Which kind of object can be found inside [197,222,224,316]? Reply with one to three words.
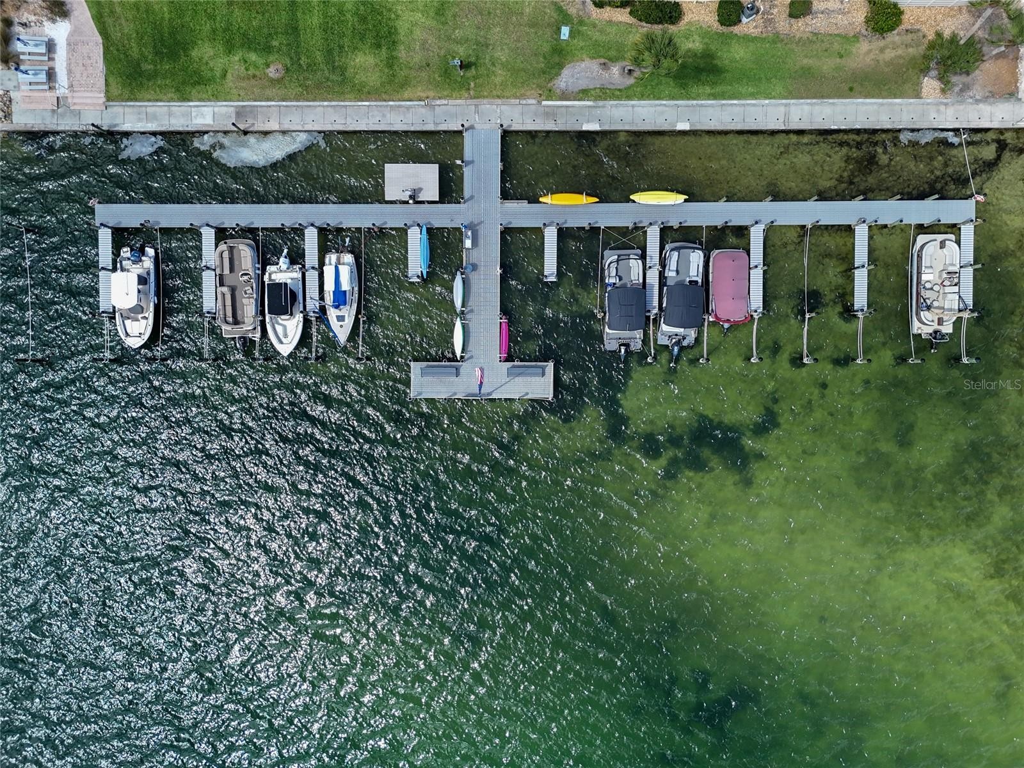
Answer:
pier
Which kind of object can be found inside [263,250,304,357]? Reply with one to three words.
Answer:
boat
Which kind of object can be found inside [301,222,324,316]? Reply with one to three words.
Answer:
pier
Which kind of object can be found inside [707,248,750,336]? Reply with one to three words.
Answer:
boat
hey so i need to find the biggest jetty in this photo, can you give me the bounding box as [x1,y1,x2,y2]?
[96,123,987,402]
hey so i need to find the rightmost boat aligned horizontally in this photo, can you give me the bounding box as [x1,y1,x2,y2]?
[630,190,689,204]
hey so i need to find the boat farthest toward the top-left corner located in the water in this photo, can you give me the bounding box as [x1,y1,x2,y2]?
[111,246,159,349]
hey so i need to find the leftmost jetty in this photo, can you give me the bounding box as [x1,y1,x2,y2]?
[92,222,122,315]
